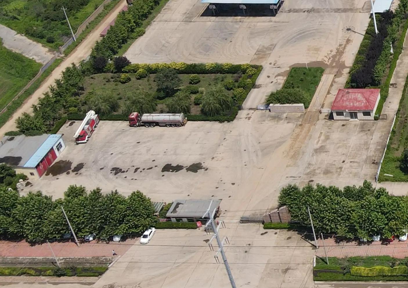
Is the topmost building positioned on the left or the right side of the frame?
right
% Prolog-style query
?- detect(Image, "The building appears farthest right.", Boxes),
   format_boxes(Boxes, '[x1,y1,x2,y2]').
[330,89,381,121]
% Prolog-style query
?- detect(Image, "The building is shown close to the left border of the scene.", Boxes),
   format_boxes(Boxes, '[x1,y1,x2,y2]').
[0,134,66,178]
